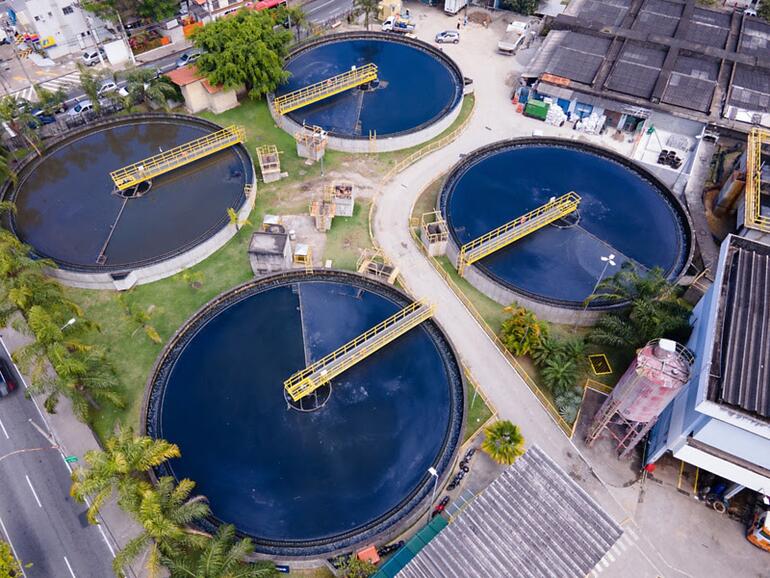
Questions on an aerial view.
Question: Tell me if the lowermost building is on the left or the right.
right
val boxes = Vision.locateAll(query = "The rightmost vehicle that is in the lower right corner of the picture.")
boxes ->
[744,499,770,558]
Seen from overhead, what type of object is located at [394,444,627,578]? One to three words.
building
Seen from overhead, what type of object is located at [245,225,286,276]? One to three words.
building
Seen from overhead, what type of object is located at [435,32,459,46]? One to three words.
car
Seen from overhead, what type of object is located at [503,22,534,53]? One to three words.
truck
